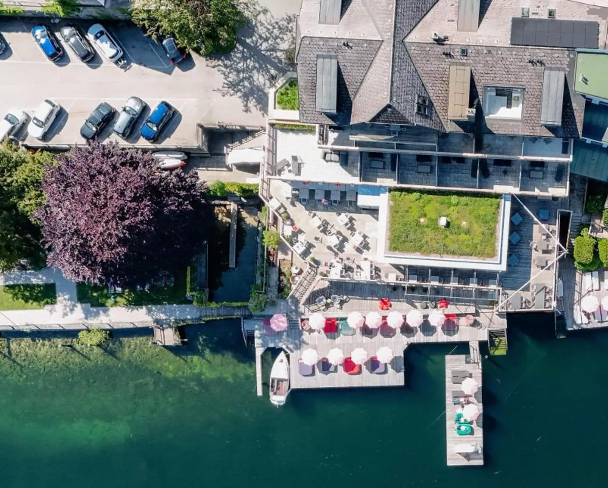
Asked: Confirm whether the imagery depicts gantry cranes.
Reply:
No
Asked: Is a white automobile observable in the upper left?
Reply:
Yes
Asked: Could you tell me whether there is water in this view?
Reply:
Yes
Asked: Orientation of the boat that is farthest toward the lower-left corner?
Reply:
from top to bottom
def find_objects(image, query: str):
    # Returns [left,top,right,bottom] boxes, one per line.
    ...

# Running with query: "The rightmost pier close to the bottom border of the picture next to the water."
[445,355,484,466]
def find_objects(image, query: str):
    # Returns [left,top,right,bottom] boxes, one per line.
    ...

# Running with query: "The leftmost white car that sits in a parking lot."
[0,103,30,144]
